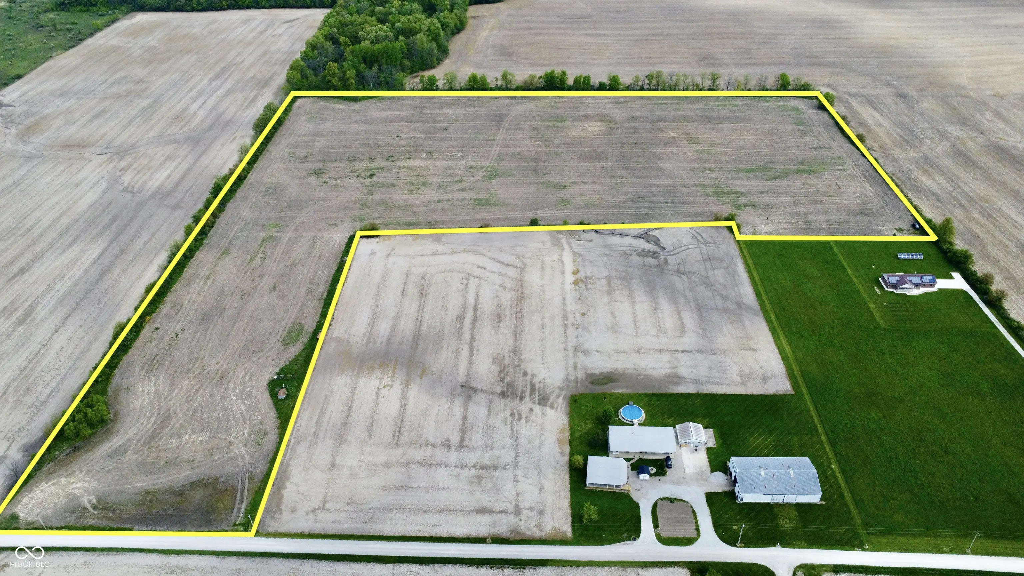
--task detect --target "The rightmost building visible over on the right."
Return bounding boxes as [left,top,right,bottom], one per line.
[880,272,938,292]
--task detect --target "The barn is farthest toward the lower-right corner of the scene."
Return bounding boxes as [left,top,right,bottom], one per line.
[729,455,823,503]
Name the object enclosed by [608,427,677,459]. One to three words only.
house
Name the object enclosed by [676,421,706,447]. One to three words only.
building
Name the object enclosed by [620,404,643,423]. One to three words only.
swimming pool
